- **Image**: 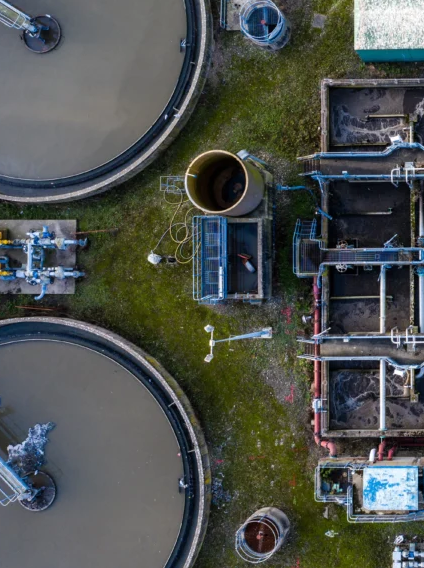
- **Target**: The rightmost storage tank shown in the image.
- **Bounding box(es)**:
[160,149,274,218]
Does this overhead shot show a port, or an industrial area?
industrial area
